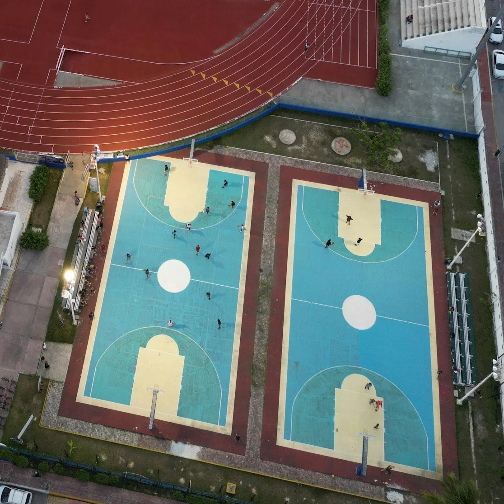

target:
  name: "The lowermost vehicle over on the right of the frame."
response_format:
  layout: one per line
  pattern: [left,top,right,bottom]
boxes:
[490,49,504,79]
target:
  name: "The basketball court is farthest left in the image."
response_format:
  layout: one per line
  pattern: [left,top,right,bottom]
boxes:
[58,151,269,455]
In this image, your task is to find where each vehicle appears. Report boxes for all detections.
[486,17,504,45]
[490,49,504,79]
[0,483,35,504]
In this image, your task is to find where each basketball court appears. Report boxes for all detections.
[58,151,269,455]
[259,165,458,494]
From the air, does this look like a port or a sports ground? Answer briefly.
sports ground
